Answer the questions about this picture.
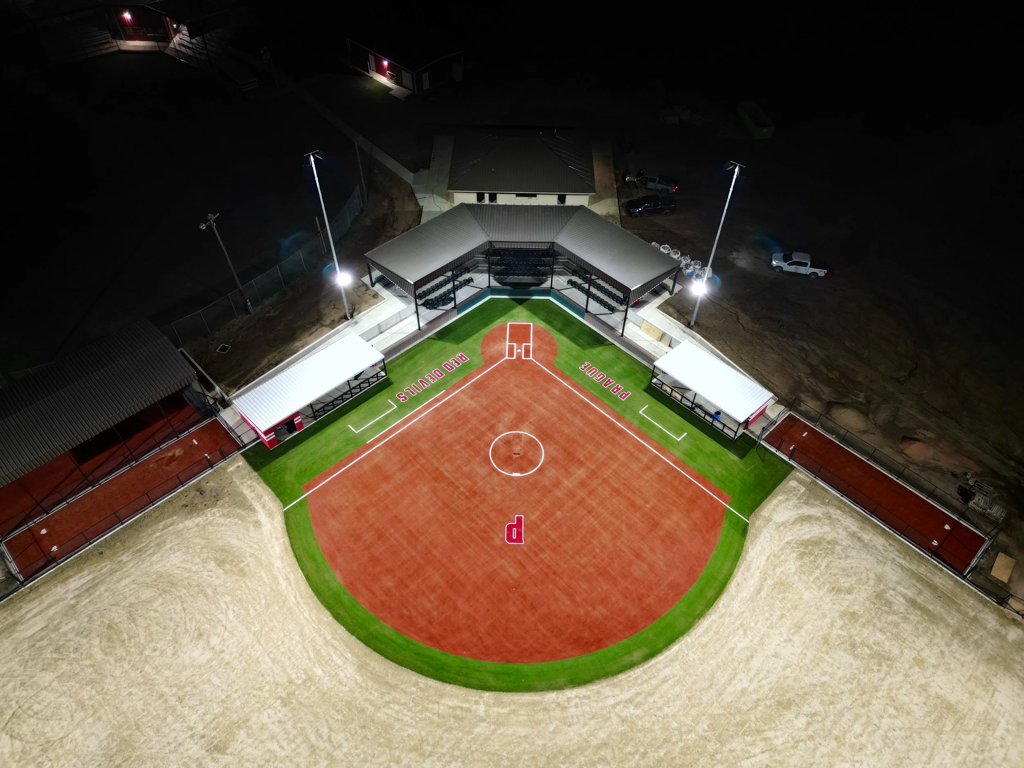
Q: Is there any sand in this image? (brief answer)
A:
Yes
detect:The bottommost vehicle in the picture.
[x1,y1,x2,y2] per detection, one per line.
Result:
[769,251,828,279]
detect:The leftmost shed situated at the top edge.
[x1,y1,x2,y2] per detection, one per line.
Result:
[344,19,464,94]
